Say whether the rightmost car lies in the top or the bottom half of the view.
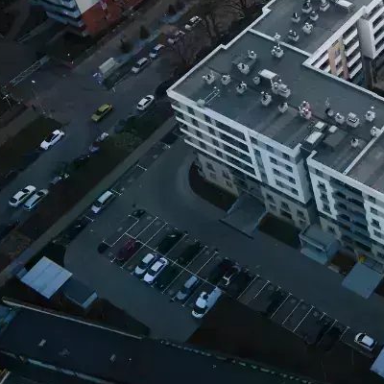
bottom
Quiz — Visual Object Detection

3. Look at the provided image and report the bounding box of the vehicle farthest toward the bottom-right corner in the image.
[352,330,381,355]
